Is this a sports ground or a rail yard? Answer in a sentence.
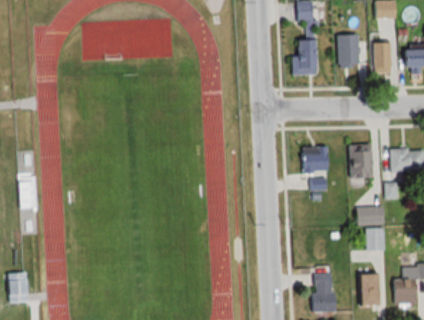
The area seen from above is a sports ground.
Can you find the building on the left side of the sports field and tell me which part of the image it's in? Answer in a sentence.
The building on the left side of the sports field is in the bottom left part of the image.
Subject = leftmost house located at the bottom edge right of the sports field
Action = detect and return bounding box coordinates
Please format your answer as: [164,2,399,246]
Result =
[311,268,338,311]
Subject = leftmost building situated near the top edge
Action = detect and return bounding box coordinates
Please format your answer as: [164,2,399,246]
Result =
[291,0,318,75]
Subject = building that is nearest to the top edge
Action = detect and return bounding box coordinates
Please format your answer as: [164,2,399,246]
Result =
[374,0,398,18]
